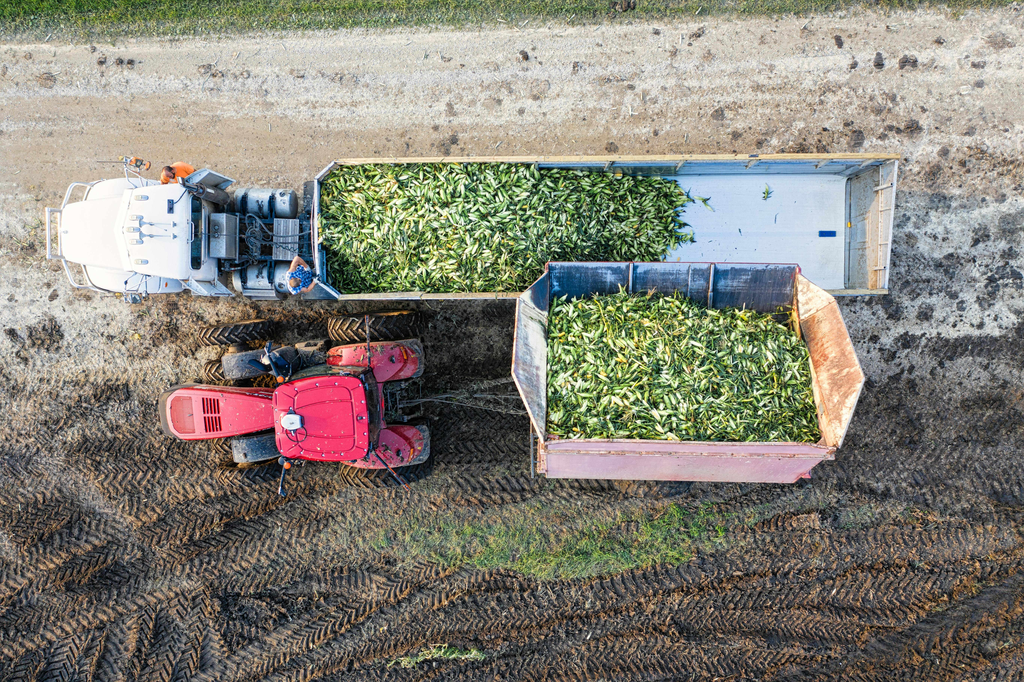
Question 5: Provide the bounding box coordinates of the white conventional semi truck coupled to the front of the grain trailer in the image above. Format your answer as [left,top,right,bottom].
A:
[45,156,348,306]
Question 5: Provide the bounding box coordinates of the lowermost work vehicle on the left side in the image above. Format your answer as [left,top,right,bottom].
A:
[159,313,438,498]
